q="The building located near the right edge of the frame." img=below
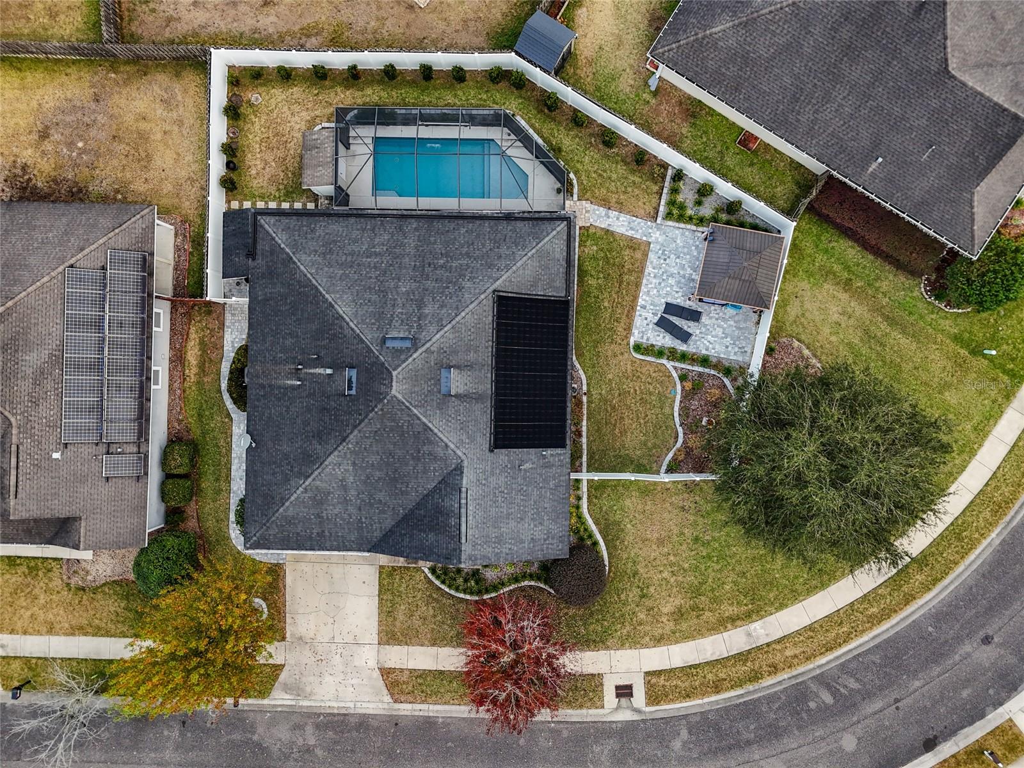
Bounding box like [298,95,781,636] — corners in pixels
[647,0,1024,260]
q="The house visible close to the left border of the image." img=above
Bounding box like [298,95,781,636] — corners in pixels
[0,202,176,549]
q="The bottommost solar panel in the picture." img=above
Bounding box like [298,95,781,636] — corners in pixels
[103,454,143,476]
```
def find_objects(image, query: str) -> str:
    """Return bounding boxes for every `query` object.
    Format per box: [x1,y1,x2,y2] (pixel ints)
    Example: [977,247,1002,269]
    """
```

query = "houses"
[647,0,1024,260]
[221,209,575,565]
[0,202,176,549]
